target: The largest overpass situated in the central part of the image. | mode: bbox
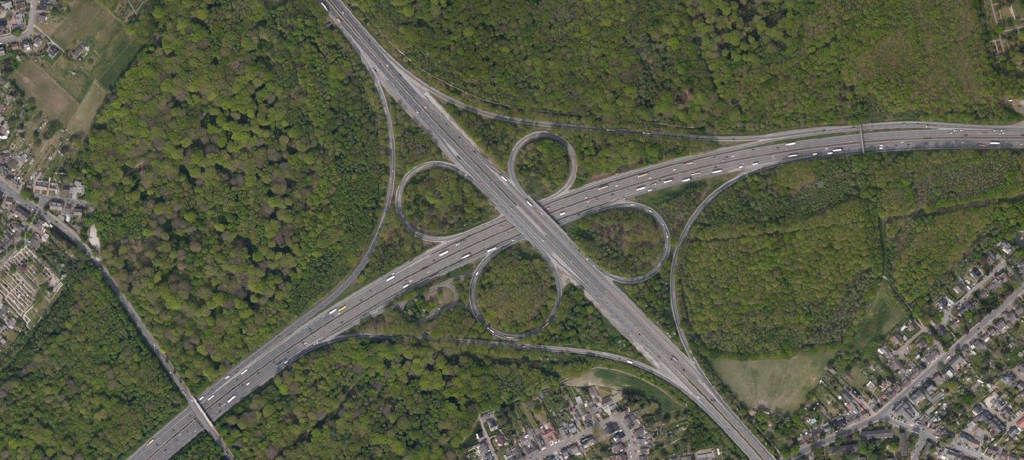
[511,199,560,249]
